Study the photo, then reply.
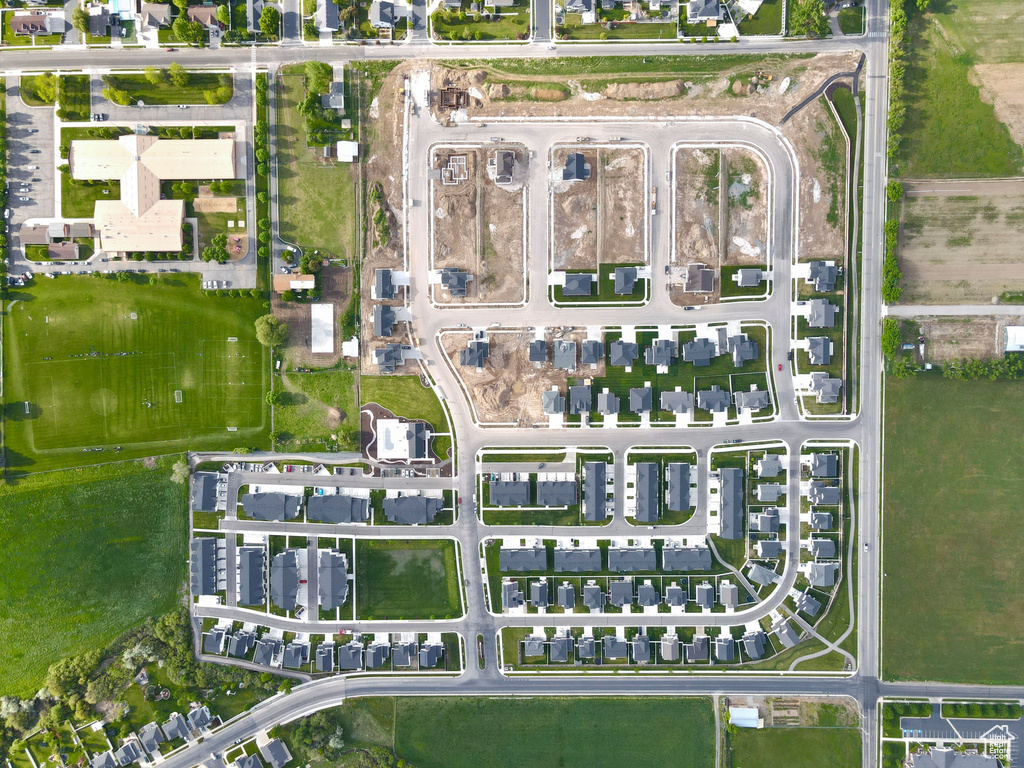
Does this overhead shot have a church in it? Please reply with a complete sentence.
Yes, you can see a church in this photo.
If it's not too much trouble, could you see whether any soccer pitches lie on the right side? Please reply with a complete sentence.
No, there's no soccer pitch to be seen on the right side.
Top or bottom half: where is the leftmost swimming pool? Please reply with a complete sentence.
You can find the leftmost swimming pool in the top half.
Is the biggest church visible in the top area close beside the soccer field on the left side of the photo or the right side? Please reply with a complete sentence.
The biggest church visible in the top area close beside the soccer field is on the left side of the image.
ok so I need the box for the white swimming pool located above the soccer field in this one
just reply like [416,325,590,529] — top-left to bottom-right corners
[108,0,131,20]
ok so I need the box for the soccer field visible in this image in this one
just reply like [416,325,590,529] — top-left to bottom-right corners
[2,273,272,479]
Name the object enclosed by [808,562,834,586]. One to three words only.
house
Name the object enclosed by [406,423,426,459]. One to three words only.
building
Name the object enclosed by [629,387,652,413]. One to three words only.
house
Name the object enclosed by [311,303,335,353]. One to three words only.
barn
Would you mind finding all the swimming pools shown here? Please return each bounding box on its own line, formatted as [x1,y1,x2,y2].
[108,0,131,20]
[385,428,394,451]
